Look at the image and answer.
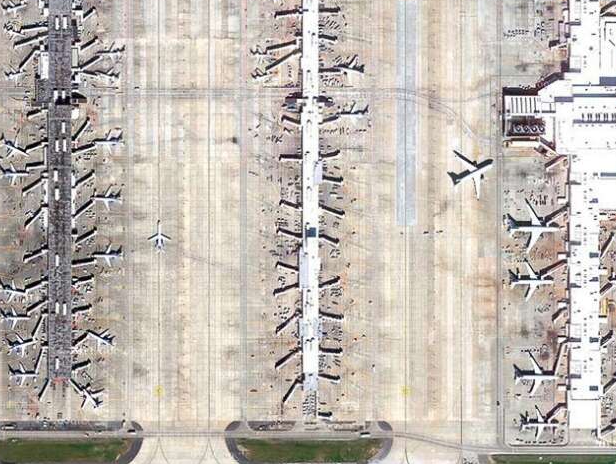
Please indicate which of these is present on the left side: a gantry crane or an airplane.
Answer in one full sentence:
The one visible on the left side is an airplane.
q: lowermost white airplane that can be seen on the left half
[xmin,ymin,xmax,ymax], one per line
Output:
[80,387,103,410]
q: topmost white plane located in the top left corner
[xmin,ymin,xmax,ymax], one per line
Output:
[2,0,26,17]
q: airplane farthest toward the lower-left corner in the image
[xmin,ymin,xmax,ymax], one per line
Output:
[10,364,38,386]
